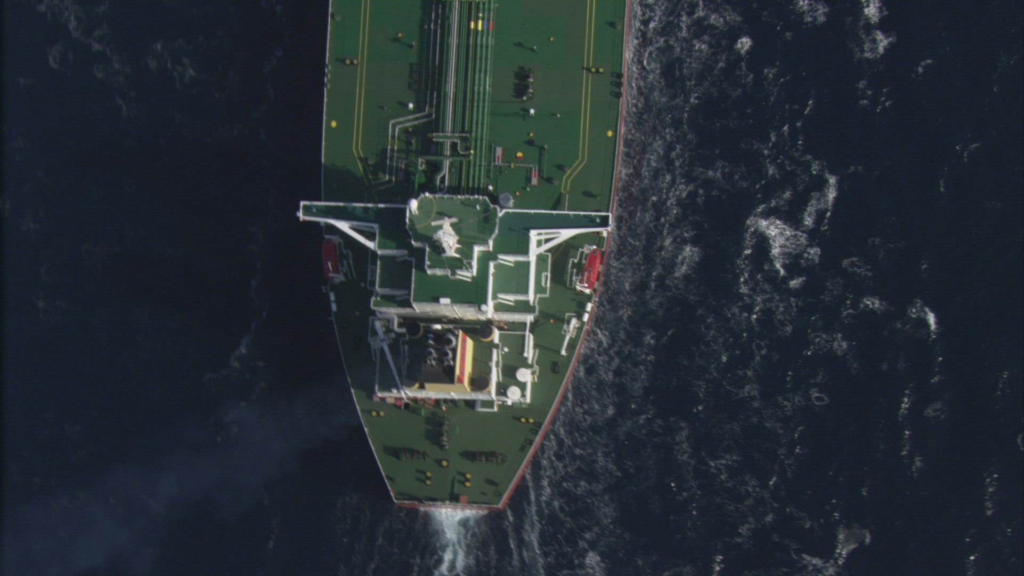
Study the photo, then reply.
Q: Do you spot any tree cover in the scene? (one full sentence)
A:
No, the scene doesn't show any tree cover.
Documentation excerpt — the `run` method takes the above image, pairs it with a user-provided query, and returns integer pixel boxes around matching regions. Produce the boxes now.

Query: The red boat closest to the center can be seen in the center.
[582,248,602,293]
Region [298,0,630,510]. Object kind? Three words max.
ship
